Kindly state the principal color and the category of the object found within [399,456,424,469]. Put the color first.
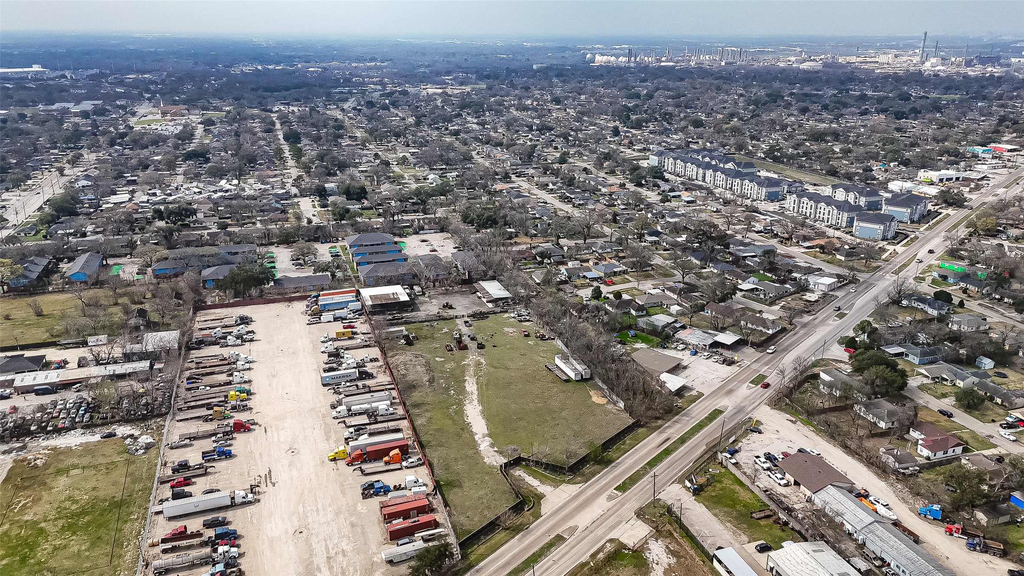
gray vehicle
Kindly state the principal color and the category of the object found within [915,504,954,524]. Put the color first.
blue vehicle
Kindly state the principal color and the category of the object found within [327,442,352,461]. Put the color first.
yellow vehicle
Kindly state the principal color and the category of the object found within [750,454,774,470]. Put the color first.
white vehicle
